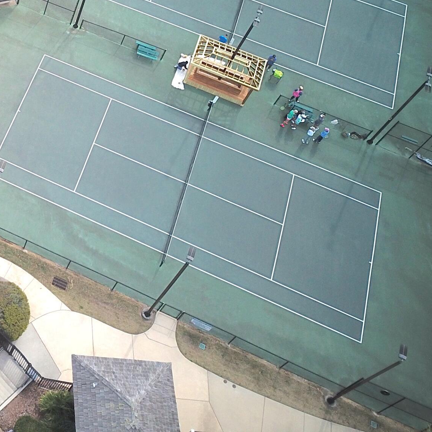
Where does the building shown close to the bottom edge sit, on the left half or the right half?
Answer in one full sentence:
The building shown close to the bottom edge sits on the left side.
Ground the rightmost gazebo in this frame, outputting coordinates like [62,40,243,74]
[184,33,268,106]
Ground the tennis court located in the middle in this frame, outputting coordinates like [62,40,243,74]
[0,54,381,343]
